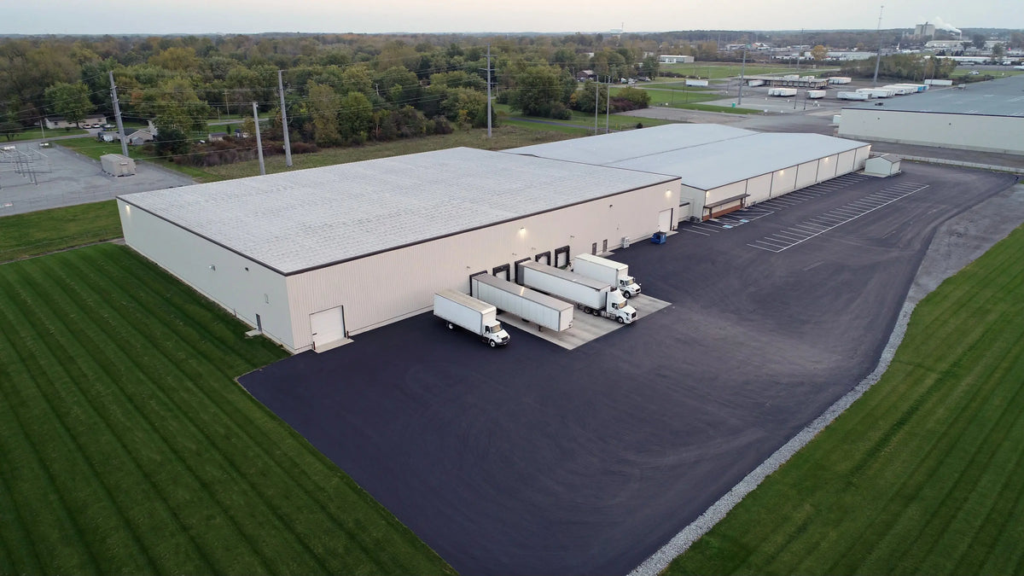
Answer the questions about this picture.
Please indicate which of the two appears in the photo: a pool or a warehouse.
warehouse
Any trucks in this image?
Yes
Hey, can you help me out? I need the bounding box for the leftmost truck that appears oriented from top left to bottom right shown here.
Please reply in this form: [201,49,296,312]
[435,289,514,350]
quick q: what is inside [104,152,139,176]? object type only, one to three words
building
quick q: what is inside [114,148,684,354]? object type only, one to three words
warehouse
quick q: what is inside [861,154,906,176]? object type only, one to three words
shed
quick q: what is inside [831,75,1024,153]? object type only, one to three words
building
